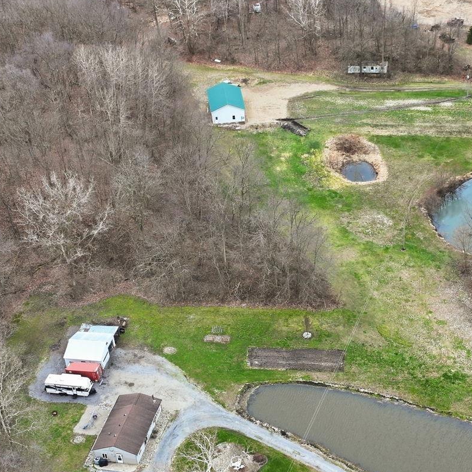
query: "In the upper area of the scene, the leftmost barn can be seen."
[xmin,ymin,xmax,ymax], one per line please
[210,85,246,124]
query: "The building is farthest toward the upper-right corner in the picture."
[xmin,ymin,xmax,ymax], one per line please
[348,58,389,72]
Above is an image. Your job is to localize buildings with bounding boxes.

[210,85,246,124]
[89,392,156,464]
[62,330,114,369]
[348,58,389,72]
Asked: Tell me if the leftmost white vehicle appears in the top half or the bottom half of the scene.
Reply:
bottom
